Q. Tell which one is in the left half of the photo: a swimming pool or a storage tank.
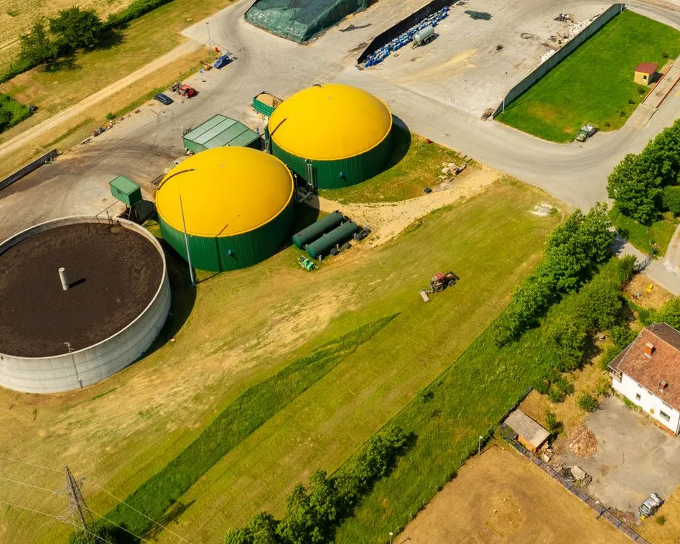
storage tank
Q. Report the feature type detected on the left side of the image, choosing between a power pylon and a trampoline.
power pylon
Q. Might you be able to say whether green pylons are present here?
No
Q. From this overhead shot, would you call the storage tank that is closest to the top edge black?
No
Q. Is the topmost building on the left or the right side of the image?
right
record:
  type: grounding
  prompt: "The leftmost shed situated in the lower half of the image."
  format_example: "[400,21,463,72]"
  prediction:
[504,409,549,456]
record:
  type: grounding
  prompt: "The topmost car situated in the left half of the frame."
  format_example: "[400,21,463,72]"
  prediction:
[214,55,231,67]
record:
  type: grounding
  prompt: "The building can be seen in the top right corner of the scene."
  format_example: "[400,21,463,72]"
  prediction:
[636,60,658,84]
